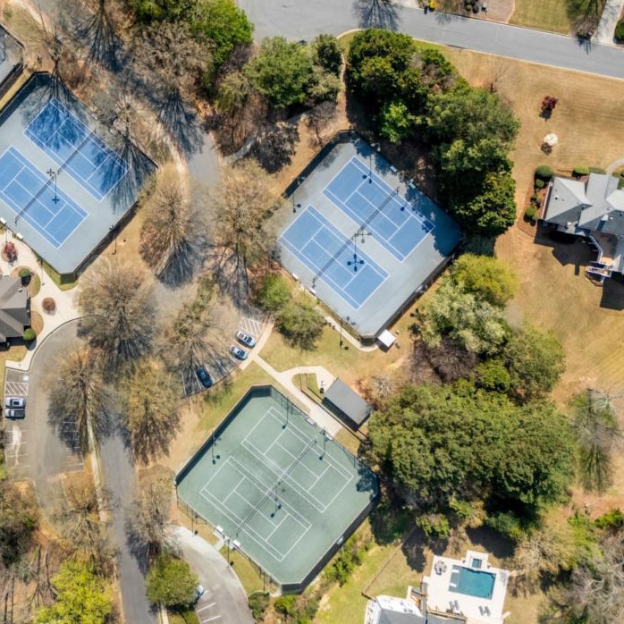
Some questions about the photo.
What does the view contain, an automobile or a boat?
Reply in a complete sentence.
I can see an automobile in this picture.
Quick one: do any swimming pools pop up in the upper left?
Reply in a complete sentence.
No, no swimming pool is visible in the upper left.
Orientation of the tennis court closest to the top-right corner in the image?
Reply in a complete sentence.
In this picture, the tennis court closest to the top-right corner lies at an angle.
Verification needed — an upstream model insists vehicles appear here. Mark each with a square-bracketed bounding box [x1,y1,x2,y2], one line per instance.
[3,408,26,420]
[229,344,249,361]
[236,330,258,348]
[4,397,25,408]
[197,366,213,388]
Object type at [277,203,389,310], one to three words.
tennis court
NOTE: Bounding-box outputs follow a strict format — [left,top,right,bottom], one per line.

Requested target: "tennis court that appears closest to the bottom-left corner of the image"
[199,455,312,561]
